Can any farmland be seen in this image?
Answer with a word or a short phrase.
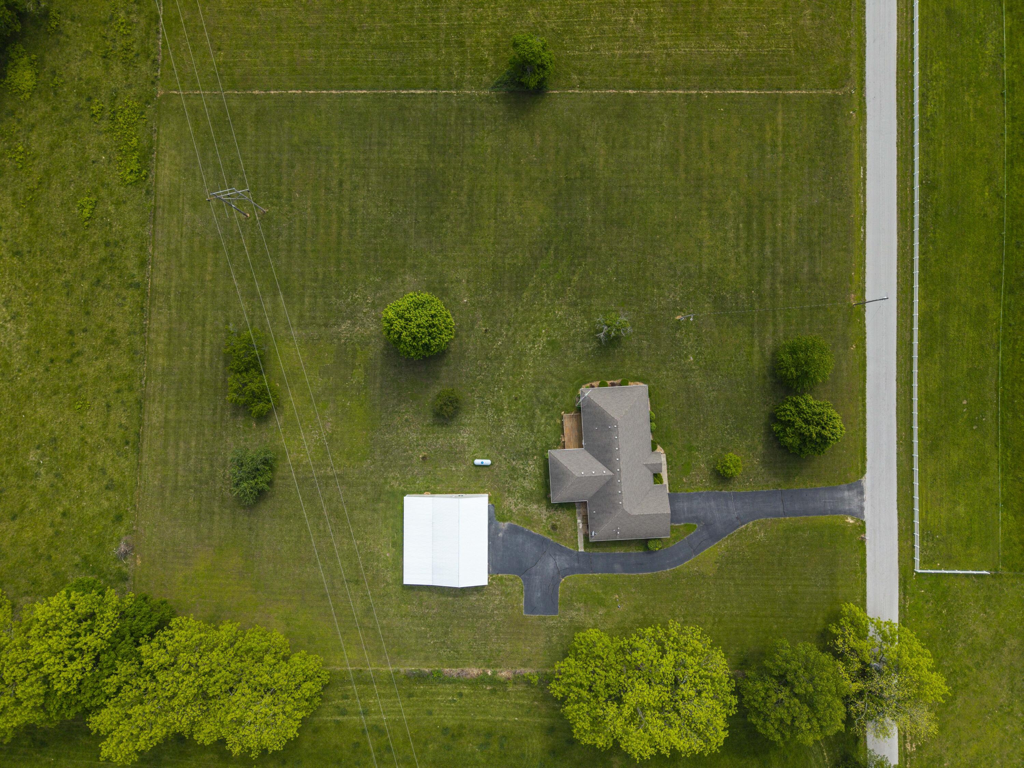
Yes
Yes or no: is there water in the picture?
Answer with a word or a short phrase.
No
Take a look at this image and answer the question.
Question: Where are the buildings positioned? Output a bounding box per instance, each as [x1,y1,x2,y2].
[548,384,672,542]
[404,494,489,588]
